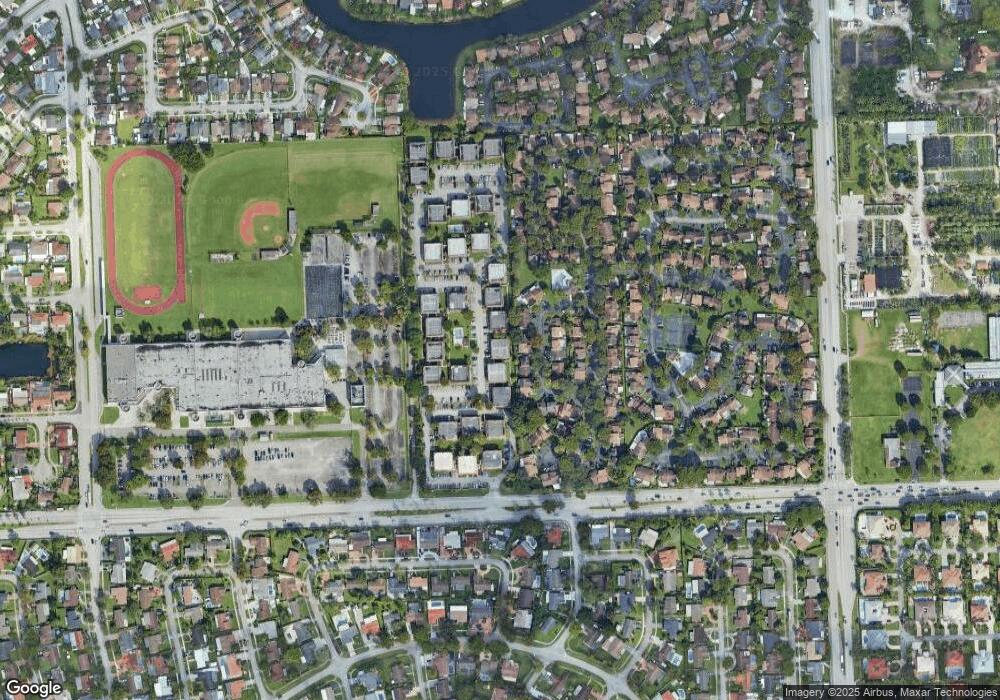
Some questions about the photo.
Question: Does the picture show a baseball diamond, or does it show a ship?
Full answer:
Of the two, only a baseball diamond appears.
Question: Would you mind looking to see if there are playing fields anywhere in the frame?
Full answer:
Yes, you can see a playing field in this photo.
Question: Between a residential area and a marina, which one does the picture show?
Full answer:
The area seen from above is a residential area.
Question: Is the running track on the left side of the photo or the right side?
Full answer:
The running track is on the left side of the image.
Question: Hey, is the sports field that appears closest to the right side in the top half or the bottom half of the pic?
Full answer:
Seen from above, the sports field that appears closest to the right side lies in the top half of the view.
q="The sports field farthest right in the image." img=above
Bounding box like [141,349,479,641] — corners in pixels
[288,142,397,231]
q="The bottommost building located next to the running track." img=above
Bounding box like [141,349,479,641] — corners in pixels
[106,329,344,418]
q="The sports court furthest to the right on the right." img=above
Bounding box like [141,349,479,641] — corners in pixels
[940,311,987,328]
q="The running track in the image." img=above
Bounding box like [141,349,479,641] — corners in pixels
[105,148,188,315]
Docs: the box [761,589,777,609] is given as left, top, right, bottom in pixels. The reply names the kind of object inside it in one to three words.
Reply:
house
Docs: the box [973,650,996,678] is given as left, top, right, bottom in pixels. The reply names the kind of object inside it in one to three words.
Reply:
house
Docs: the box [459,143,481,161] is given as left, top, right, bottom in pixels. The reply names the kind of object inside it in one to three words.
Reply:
building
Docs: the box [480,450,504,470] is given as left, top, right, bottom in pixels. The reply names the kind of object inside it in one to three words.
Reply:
building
